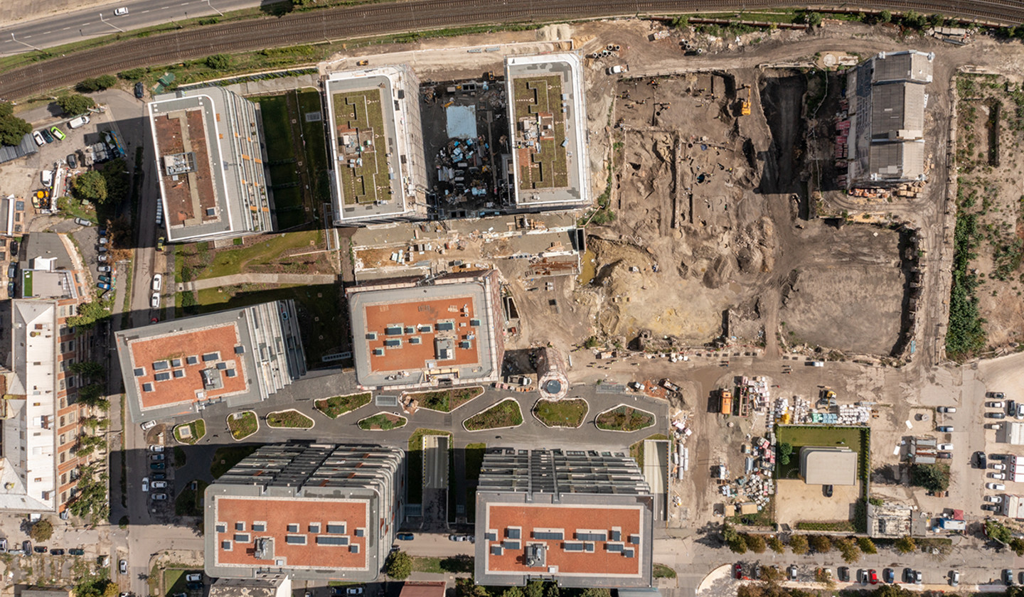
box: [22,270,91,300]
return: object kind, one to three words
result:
building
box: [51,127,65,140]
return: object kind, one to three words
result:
vehicle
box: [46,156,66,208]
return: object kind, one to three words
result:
vehicle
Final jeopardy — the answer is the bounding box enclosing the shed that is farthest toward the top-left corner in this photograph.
[0,135,44,165]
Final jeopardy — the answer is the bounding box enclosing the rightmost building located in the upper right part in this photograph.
[837,57,943,182]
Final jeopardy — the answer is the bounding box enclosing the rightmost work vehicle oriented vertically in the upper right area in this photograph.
[742,72,754,115]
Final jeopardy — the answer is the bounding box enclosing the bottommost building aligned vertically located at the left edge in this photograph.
[0,302,88,519]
